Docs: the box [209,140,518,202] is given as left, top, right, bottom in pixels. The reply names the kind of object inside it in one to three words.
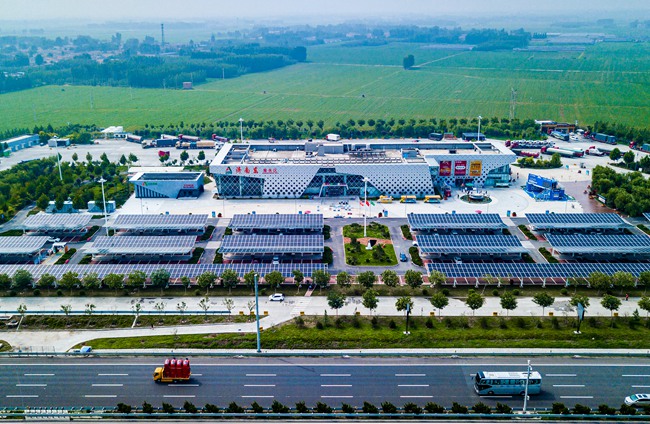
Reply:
building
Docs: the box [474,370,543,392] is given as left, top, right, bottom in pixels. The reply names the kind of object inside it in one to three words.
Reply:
bus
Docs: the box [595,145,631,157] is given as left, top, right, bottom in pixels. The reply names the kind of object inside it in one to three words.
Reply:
vehicle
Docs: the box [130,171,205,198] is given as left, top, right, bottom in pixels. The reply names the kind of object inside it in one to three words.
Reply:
building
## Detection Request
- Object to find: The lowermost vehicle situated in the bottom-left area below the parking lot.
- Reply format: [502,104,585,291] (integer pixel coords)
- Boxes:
[151,361,192,385]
